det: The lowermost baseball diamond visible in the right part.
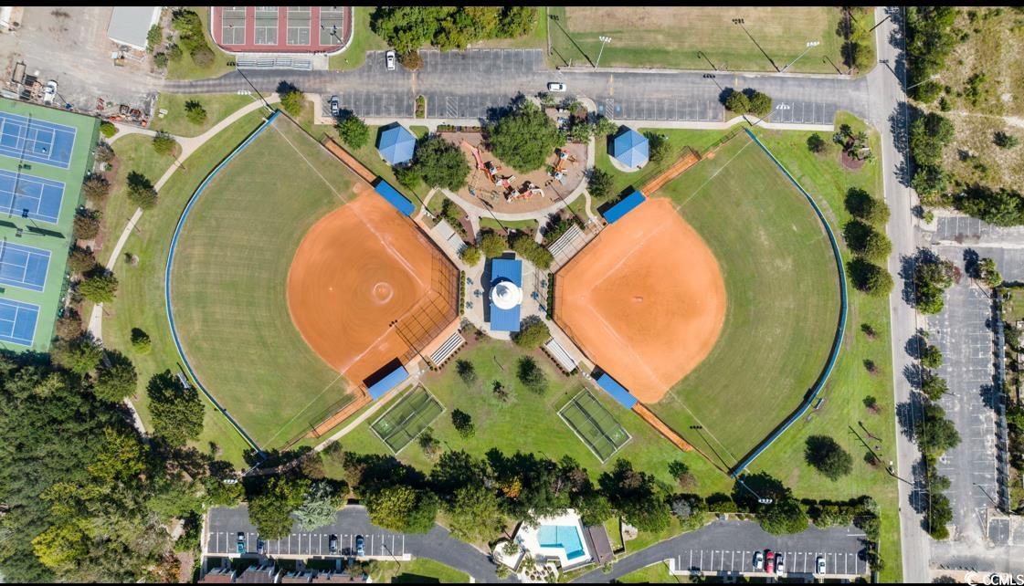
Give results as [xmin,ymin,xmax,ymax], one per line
[555,129,844,476]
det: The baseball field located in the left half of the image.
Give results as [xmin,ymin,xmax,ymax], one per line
[167,111,458,456]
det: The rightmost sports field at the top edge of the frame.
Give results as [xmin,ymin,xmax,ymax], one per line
[550,0,848,74]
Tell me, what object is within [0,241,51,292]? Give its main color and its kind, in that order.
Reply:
blue tennis court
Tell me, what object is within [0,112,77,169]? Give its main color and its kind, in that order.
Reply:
blue tennis court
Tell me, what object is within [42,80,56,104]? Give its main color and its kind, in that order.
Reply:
white vehicle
